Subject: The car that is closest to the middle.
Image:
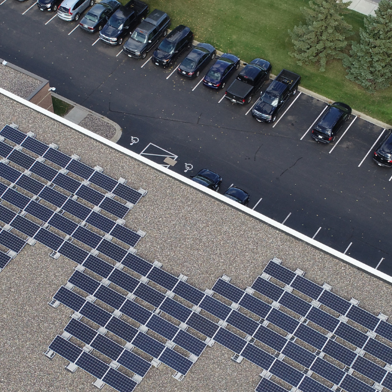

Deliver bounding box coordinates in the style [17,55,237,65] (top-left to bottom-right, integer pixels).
[190,166,222,190]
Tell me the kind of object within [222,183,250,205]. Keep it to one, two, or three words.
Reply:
car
